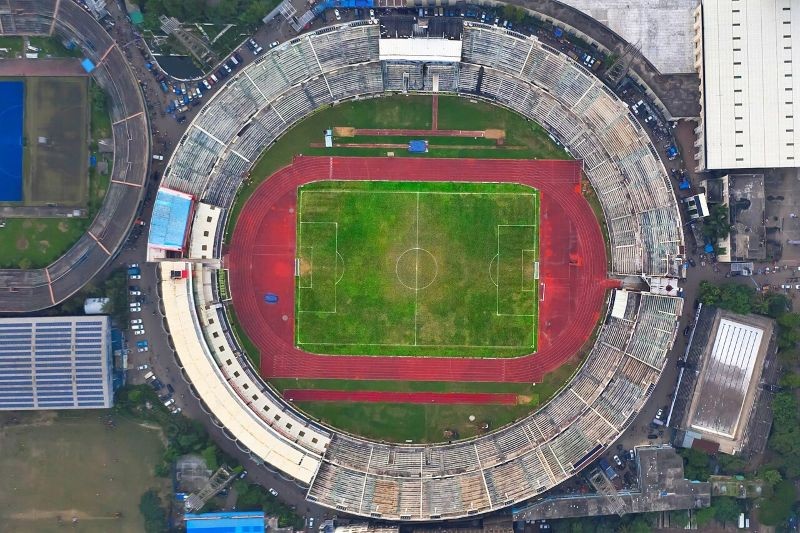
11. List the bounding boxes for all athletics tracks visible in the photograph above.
[223,157,609,382]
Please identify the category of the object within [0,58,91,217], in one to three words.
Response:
sports field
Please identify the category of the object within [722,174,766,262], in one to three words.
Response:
building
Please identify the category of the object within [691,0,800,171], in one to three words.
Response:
building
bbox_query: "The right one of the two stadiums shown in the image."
[146,8,686,521]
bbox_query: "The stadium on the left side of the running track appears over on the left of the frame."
[0,0,158,315]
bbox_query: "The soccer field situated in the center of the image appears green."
[295,181,539,358]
